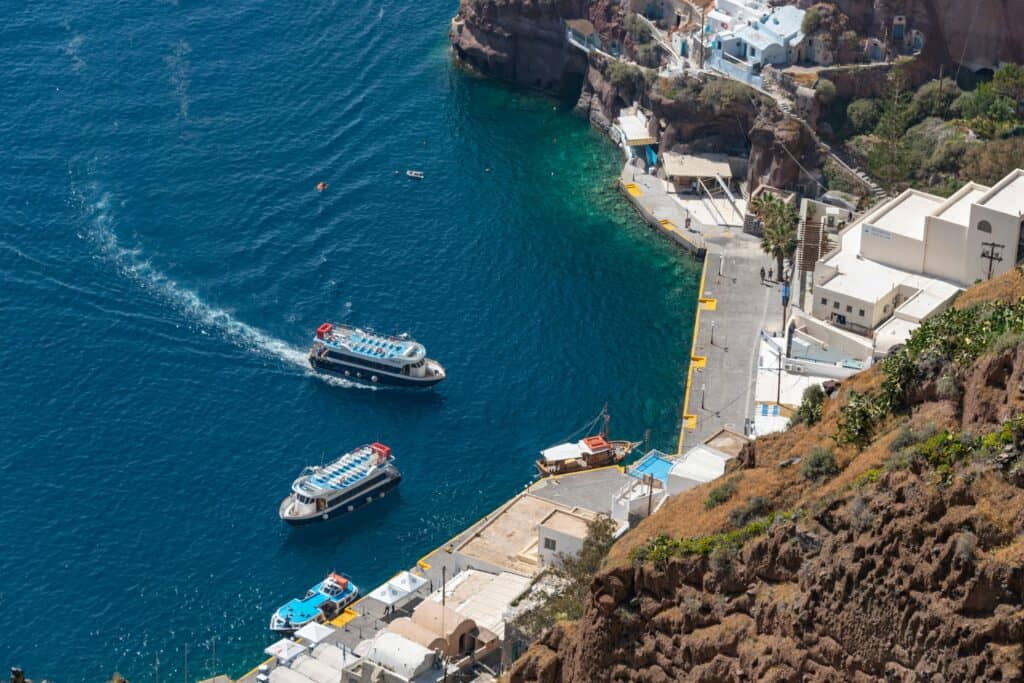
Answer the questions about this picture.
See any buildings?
Yes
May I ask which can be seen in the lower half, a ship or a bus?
ship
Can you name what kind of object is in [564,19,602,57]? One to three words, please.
house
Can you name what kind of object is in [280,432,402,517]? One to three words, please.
ship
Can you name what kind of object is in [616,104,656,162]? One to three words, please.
building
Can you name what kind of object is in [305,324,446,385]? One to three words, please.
ship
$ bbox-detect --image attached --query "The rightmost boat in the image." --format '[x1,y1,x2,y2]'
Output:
[538,398,639,476]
